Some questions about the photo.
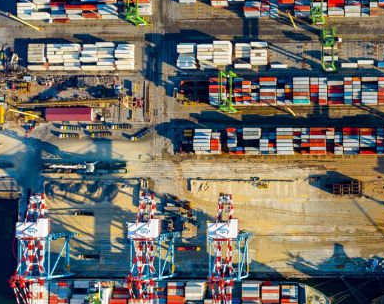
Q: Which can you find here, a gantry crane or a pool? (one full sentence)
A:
Of the two, only a gantry crane appears.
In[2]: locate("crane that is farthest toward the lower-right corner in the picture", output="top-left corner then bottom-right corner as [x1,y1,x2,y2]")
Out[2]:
[205,194,256,304]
